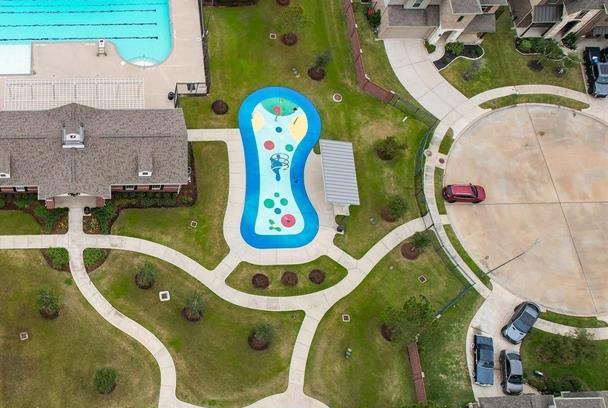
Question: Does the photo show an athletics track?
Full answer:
No, there appears to be no athletics track in this shot.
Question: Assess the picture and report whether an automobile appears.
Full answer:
Yes, an automobile can be made out from above.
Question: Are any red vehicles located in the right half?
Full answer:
Yes, I can see a red vehicle in the right half.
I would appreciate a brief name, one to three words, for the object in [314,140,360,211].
building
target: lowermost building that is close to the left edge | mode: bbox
[0,99,187,212]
